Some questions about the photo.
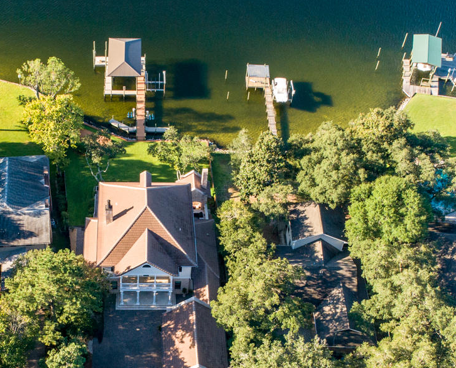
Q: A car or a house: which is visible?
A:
house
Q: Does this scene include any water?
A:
Yes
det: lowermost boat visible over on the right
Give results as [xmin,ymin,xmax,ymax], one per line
[269,71,288,103]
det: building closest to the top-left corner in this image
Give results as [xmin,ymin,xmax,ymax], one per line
[92,29,169,141]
